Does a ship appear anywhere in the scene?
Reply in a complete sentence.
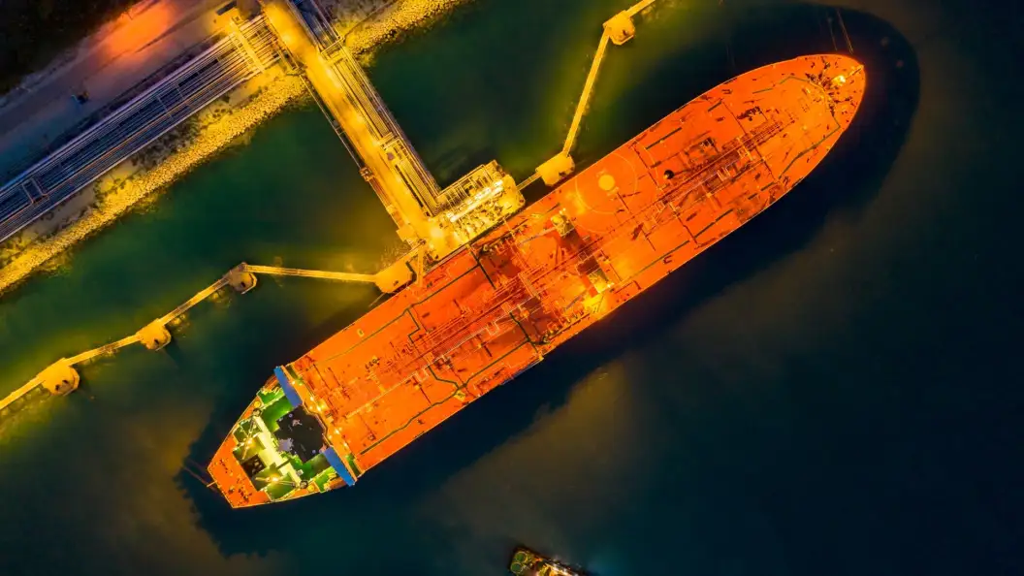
Yes, there's a ship down there.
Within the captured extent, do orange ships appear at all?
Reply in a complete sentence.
Yes, an orange ship appears in the view.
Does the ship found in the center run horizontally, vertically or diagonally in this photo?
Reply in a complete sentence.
What the image shows is the ship found in the center lying diagonally.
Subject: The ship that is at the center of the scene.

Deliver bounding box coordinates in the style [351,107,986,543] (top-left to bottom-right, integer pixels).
[207,54,866,508]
